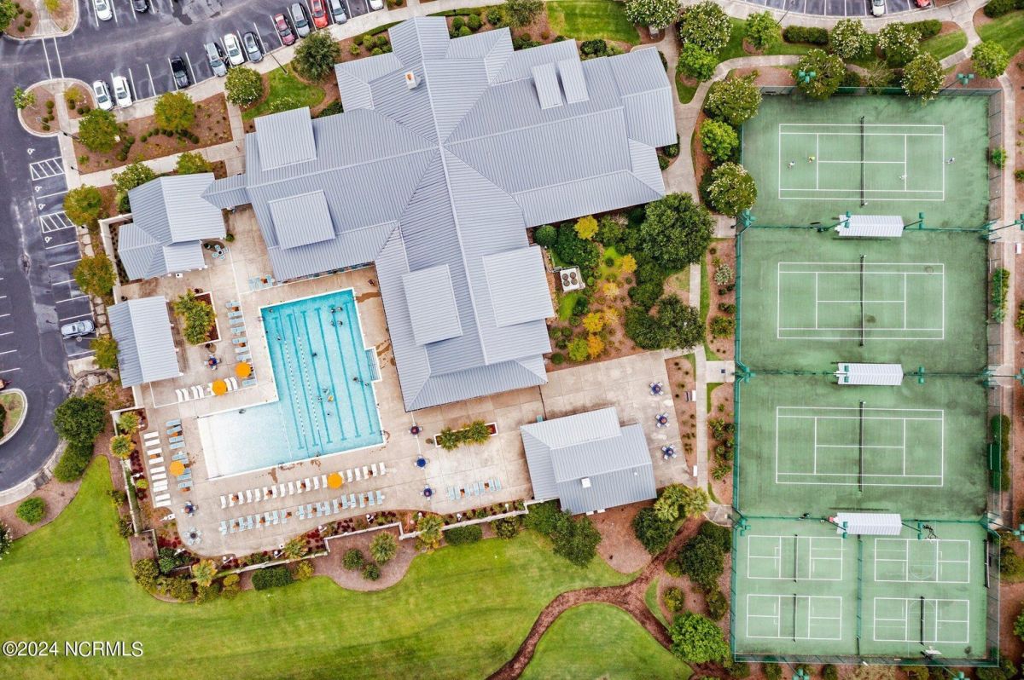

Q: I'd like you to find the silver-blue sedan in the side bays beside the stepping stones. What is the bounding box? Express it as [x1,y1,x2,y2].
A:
[61,320,97,336]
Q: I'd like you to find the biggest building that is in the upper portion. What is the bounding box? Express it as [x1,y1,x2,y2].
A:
[245,16,677,412]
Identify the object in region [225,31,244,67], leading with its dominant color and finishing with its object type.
white car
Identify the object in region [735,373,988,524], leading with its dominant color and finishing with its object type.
green tennis court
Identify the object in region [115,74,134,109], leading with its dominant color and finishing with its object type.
white car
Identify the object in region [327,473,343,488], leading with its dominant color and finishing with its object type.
orange umbrella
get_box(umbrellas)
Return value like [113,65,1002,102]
[236,362,252,378]
[170,461,185,476]
[213,380,228,395]
[327,473,343,488]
